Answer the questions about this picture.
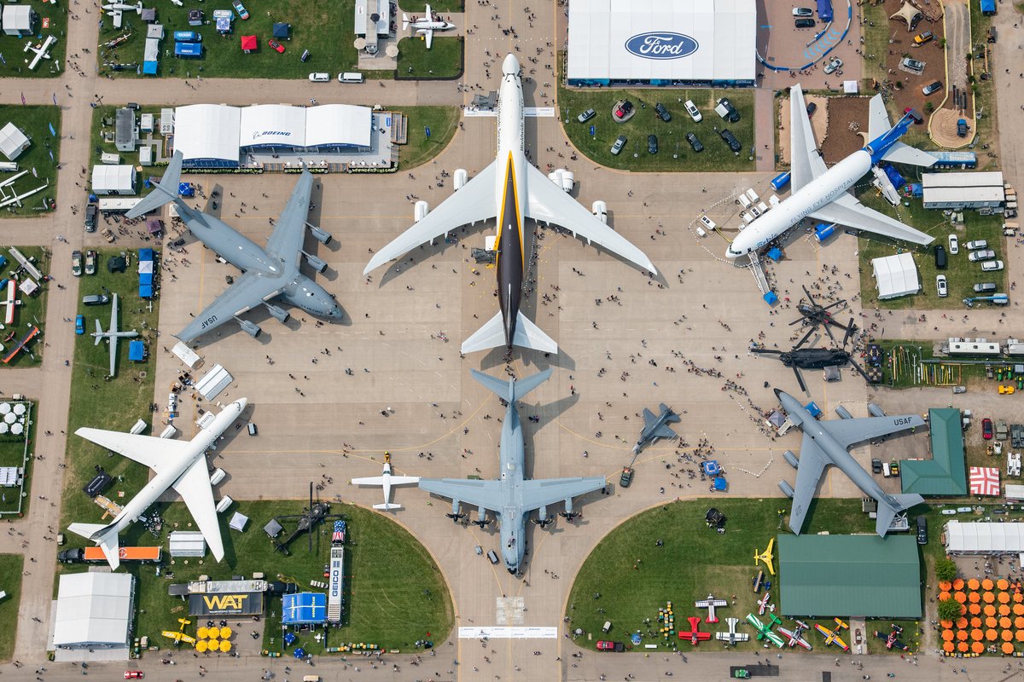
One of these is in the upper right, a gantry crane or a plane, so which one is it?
plane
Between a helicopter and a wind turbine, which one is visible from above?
helicopter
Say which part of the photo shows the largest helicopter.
right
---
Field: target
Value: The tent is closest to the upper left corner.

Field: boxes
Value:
[2,5,34,35]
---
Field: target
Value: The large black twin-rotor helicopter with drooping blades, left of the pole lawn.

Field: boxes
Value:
[751,318,873,392]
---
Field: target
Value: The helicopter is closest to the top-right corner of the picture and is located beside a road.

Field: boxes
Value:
[793,288,858,337]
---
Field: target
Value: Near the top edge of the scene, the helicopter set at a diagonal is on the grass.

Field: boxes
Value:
[100,30,132,51]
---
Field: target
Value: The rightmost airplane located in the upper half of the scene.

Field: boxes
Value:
[726,79,939,255]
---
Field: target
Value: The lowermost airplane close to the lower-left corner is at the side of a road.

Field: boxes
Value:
[161,618,197,646]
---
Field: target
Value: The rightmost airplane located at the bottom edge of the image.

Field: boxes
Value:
[873,623,909,650]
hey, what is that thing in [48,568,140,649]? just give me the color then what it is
white tent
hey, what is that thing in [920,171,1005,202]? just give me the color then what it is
white trailer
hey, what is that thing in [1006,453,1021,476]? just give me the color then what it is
white vehicle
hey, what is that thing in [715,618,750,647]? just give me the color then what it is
white airplane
